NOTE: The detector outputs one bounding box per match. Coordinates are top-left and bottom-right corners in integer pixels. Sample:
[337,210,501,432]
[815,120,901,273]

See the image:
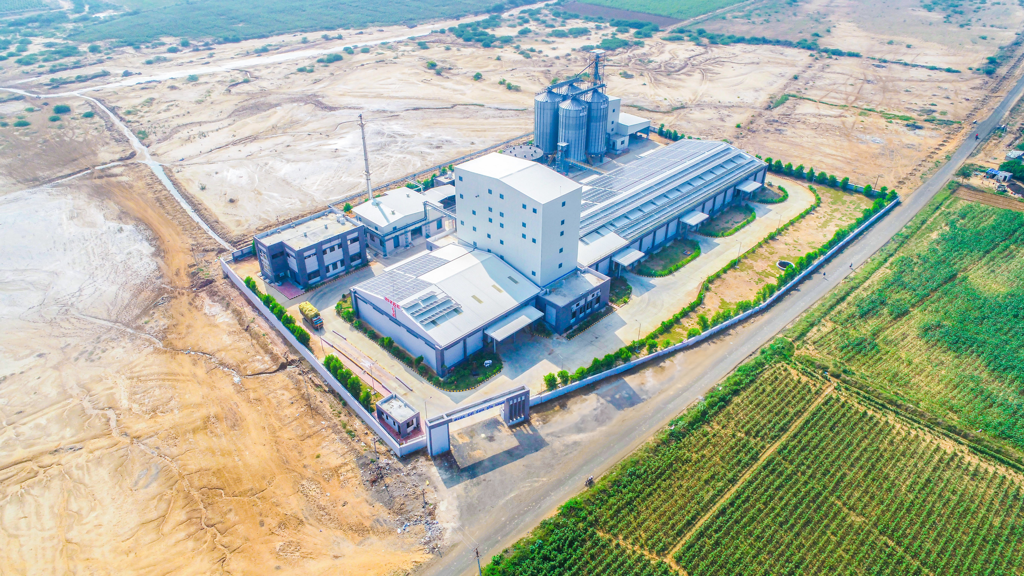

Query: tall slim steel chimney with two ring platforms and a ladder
[356,110,374,200]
